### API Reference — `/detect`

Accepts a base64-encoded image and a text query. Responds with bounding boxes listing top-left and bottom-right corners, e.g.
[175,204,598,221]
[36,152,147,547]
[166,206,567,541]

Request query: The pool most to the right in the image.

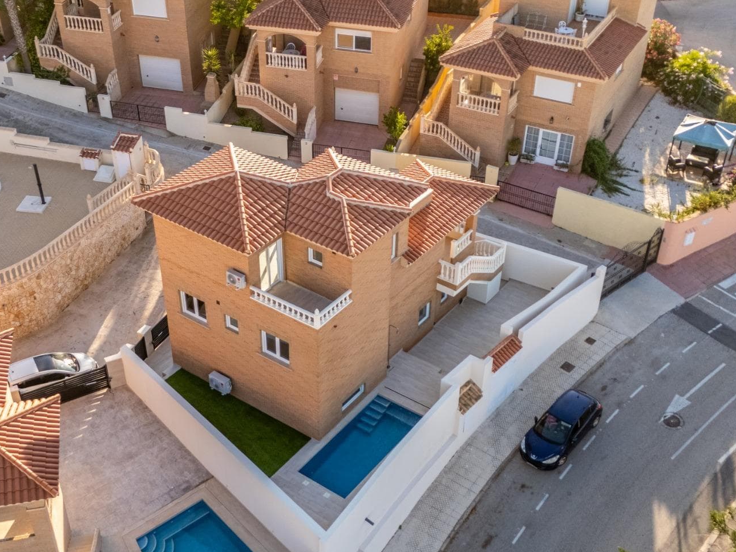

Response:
[298,395,423,497]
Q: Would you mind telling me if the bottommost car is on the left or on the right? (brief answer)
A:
right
